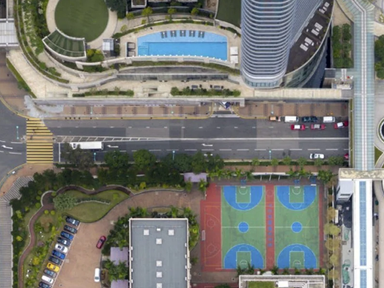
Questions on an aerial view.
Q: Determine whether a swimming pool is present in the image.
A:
Yes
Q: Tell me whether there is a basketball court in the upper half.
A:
No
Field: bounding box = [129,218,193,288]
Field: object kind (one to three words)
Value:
building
